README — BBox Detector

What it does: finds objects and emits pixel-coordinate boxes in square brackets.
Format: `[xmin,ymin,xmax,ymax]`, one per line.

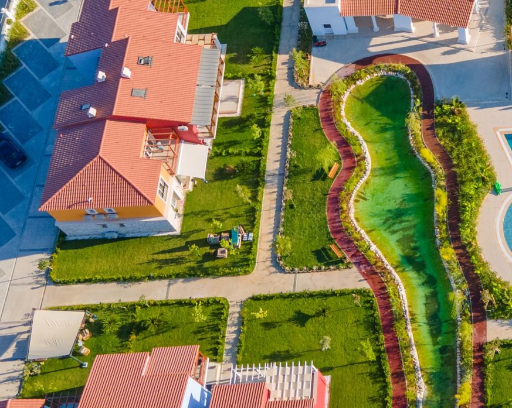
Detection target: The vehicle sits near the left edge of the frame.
[0,130,32,172]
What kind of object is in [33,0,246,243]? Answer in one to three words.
house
